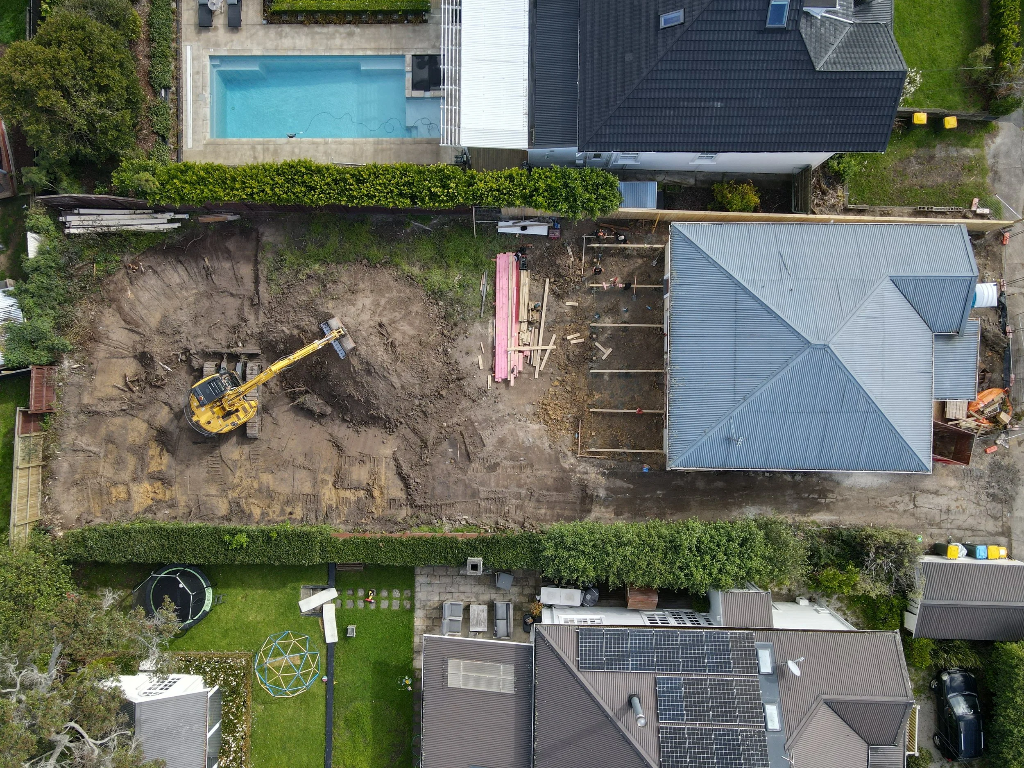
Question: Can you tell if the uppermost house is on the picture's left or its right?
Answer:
right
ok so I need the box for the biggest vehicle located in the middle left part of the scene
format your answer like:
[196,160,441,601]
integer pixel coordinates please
[184,313,363,439]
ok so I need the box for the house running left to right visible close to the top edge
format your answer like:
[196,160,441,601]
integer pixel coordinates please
[528,0,910,175]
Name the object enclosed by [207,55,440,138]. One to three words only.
swimming pool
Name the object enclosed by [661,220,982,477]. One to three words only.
house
